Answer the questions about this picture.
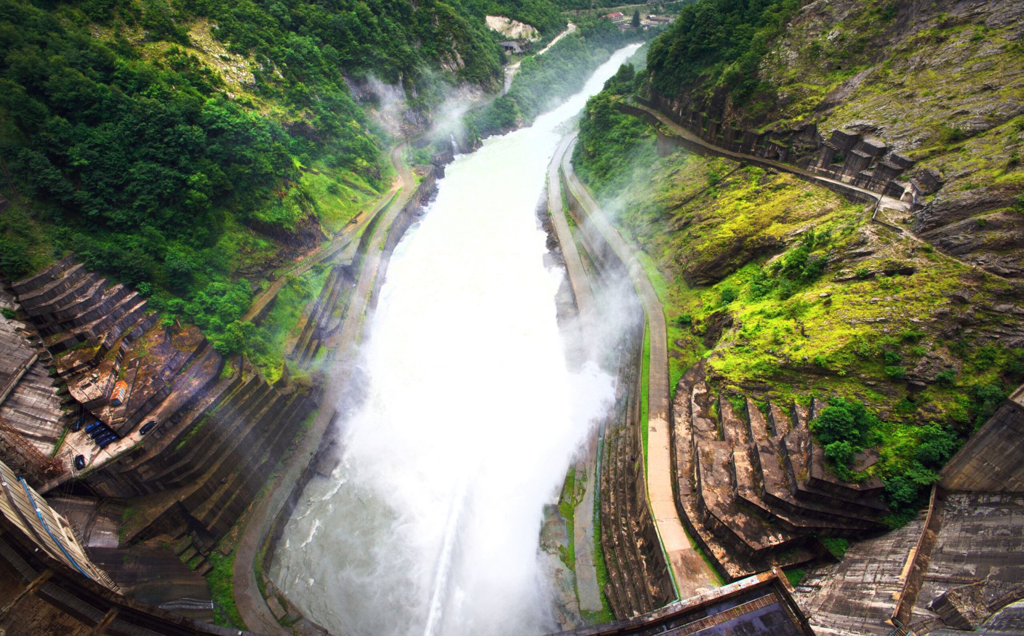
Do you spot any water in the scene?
Yes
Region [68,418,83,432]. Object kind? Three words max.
car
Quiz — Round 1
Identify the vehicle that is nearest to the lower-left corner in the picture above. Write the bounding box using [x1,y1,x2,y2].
[72,452,86,469]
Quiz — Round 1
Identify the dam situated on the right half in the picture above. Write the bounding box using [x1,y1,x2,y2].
[788,486,1024,636]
